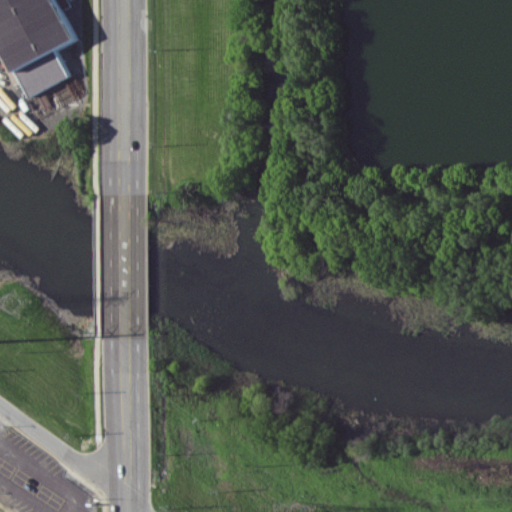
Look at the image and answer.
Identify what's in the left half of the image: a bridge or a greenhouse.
bridge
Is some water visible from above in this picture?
Yes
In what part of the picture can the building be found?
top left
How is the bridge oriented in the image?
vertically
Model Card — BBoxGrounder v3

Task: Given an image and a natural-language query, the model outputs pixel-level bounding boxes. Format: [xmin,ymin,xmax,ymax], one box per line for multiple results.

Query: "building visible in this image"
[0,0,76,97]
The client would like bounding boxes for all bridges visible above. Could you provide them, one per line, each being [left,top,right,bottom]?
[92,193,148,338]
